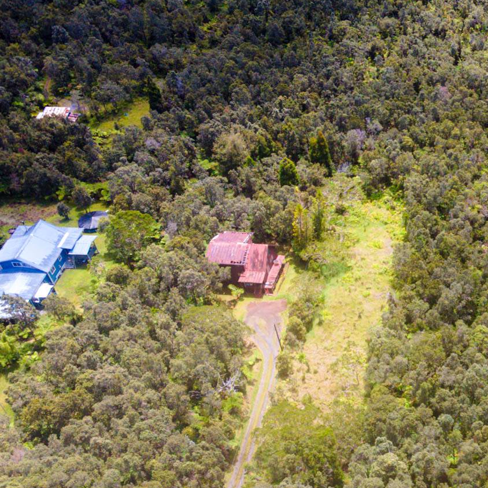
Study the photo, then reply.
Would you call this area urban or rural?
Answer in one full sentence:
The area shown here is rural.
